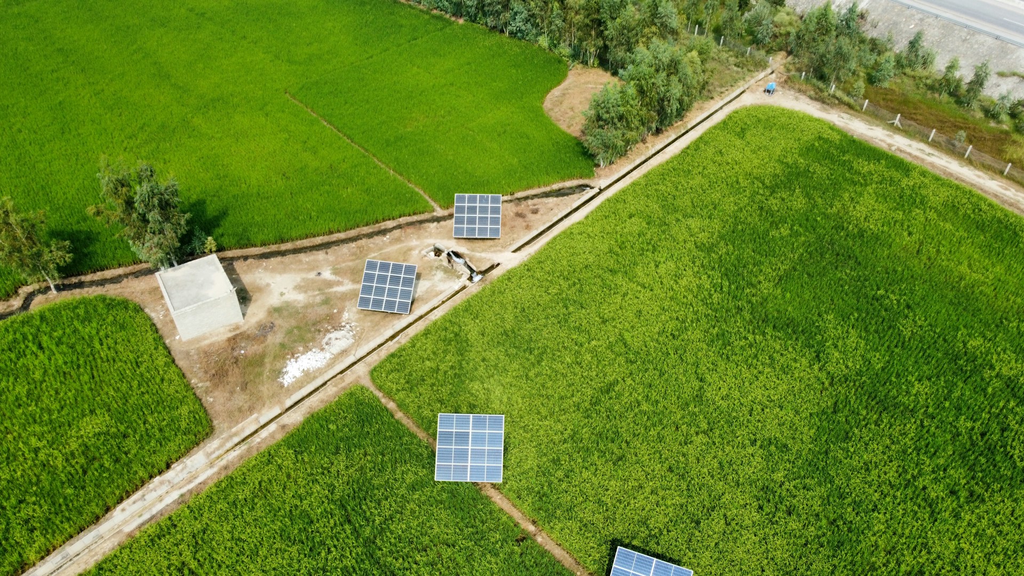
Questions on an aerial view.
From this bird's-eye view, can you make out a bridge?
No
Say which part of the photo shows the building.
left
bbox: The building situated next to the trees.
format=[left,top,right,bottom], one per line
[155,255,243,342]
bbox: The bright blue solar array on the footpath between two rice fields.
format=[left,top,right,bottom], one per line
[435,413,504,482]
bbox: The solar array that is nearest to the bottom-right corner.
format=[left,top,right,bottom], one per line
[610,546,693,576]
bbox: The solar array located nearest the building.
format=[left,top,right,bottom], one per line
[357,259,417,314]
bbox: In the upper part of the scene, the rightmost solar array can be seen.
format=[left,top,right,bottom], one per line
[453,194,501,238]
